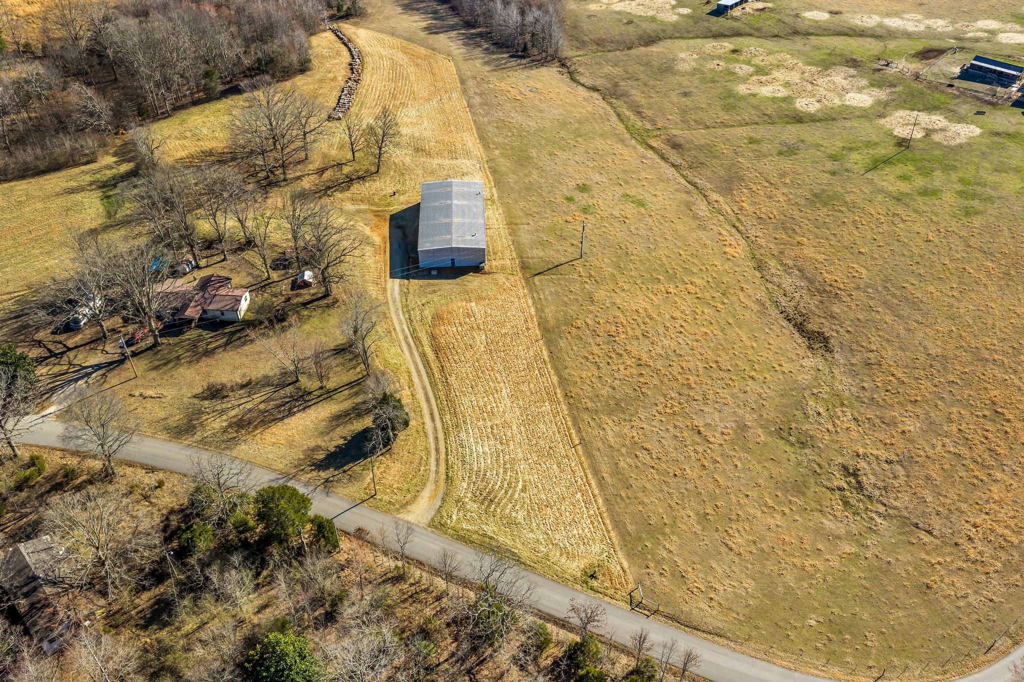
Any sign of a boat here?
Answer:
No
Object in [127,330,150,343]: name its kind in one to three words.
vehicle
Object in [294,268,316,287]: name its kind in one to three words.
shed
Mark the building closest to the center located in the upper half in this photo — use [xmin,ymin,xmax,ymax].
[417,179,486,268]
